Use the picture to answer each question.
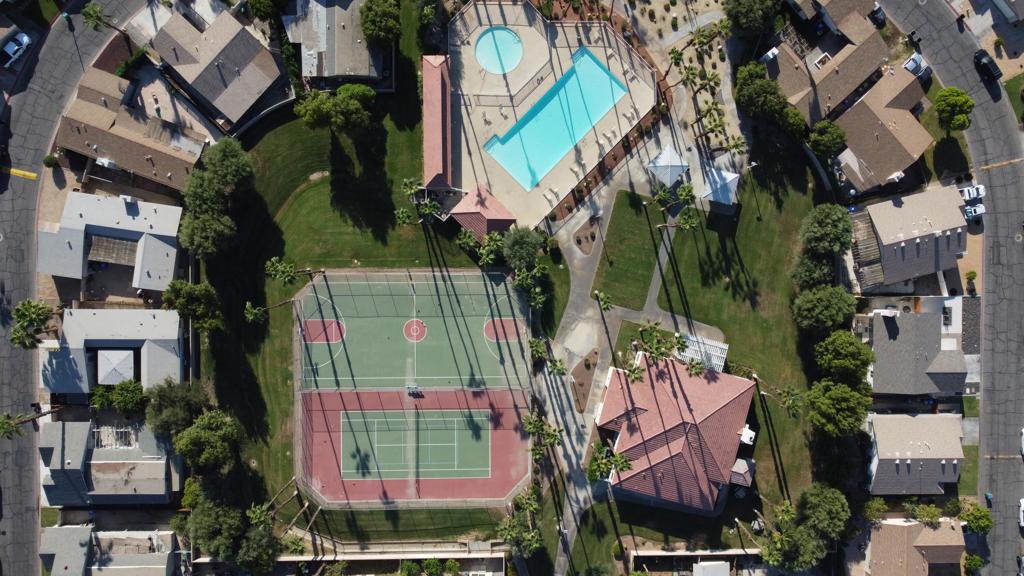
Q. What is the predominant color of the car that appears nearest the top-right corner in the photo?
black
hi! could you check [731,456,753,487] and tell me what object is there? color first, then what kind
gray gazebo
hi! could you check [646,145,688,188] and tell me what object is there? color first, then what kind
white gazebo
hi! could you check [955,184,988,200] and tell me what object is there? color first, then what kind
white car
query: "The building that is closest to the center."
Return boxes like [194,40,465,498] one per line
[450,184,517,249]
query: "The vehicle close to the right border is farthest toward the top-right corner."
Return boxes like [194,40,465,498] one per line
[974,49,1004,82]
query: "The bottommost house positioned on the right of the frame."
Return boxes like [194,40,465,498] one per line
[864,517,965,576]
